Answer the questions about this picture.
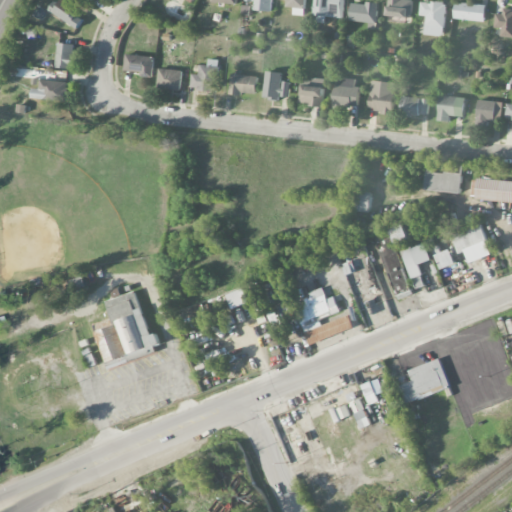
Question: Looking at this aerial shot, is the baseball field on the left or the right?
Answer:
left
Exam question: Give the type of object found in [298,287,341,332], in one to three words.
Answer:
building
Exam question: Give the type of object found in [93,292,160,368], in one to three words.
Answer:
building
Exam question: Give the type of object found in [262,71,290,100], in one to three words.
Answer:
house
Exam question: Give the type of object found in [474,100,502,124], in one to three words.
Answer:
house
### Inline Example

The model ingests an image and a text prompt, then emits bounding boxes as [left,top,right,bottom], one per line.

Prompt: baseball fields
[0,146,130,286]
